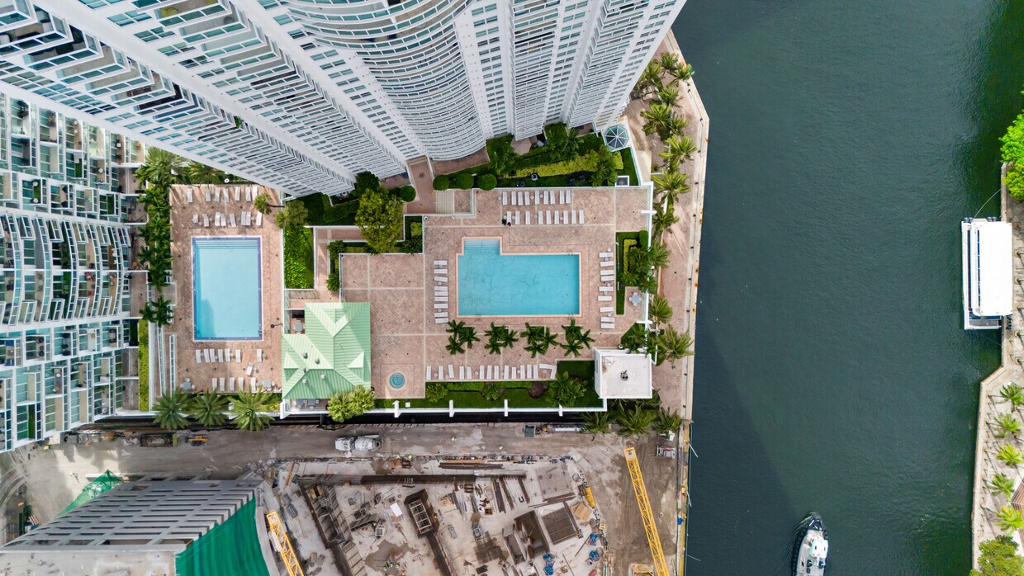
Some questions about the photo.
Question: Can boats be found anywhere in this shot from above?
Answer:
Yes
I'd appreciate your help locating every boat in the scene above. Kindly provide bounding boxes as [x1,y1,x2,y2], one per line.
[959,216,1012,331]
[790,510,829,576]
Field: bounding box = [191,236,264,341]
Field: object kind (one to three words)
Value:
swimming pool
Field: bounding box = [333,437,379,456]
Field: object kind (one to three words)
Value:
vehicle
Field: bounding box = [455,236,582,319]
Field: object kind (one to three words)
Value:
swimming pool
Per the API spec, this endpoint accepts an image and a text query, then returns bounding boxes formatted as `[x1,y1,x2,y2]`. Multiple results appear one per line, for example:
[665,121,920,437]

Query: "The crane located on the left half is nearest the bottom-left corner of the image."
[260,510,306,576]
